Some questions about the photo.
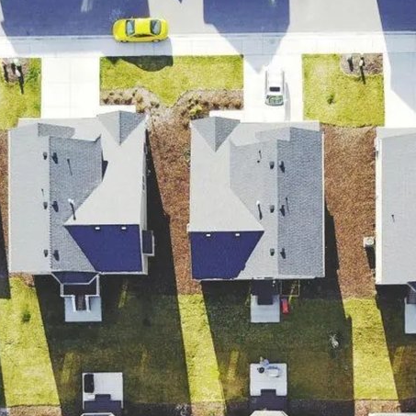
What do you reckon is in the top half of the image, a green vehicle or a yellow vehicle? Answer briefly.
yellow vehicle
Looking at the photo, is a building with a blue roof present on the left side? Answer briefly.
No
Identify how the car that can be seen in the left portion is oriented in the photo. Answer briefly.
from side to side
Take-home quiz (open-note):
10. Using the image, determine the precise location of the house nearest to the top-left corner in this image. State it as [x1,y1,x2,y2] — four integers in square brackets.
[9,109,154,286]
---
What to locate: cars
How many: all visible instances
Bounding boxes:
[262,66,288,124]
[114,17,169,45]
